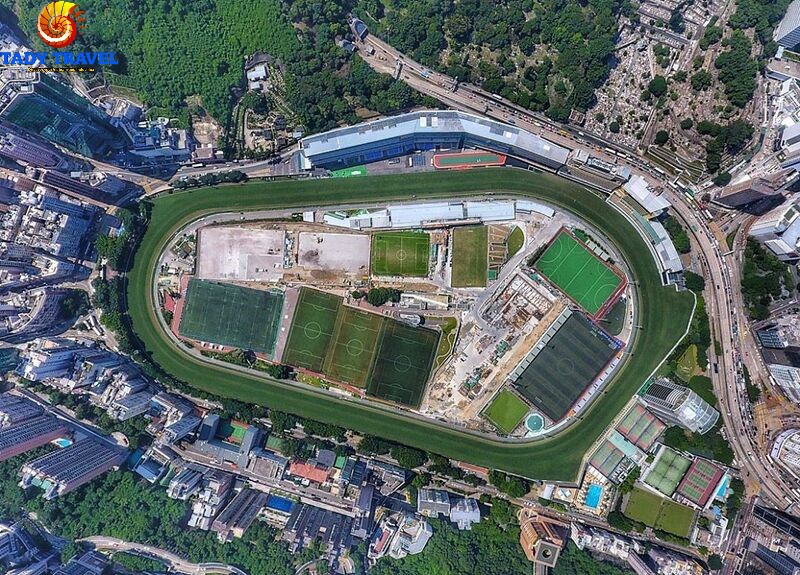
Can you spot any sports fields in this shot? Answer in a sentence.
Yes, you can see a sports field in this photo.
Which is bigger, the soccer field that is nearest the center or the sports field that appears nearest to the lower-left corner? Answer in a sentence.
It is the sports field that is larger, not the soccer field.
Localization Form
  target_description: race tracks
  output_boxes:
[125,167,695,485]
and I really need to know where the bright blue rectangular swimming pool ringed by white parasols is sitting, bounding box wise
[584,483,603,509]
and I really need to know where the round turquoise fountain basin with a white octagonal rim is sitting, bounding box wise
[525,412,545,433]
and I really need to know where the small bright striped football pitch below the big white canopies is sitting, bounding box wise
[370,231,431,277]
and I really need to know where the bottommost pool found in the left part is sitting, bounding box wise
[265,495,293,514]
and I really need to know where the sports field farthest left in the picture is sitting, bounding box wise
[180,279,283,354]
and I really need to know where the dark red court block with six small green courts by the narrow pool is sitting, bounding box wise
[677,459,727,508]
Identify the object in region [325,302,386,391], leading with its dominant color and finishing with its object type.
green soccer field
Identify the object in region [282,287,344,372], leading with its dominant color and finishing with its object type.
green soccer field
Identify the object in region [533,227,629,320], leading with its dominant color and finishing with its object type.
green sports field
